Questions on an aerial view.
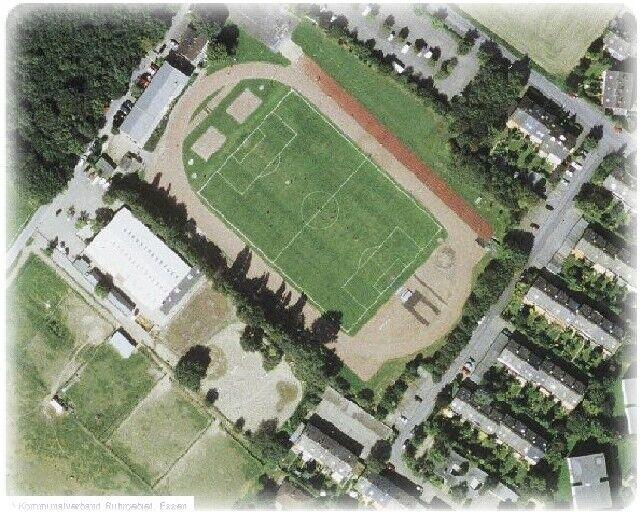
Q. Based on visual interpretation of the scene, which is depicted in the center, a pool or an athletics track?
athletics track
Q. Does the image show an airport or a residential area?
residential area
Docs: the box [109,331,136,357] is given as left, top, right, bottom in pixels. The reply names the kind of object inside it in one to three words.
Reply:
shed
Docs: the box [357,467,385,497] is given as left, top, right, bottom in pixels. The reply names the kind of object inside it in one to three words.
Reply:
house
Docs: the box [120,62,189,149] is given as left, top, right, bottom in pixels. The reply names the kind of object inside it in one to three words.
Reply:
shed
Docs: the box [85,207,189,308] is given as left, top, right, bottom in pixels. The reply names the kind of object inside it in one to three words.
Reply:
building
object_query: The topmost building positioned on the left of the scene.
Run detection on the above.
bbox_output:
[176,28,207,61]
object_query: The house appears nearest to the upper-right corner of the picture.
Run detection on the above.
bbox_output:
[602,31,636,62]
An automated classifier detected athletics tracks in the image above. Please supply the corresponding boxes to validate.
[154,53,494,381]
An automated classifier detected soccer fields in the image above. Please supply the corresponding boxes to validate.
[182,78,451,339]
